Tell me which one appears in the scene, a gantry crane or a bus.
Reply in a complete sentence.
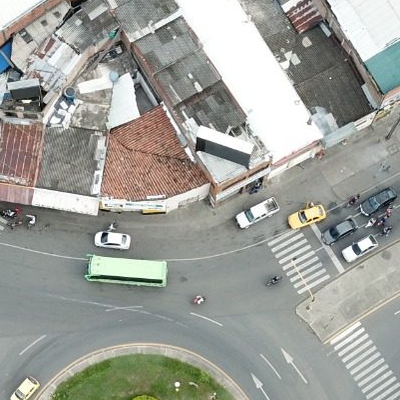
Visible in the photo is a bus.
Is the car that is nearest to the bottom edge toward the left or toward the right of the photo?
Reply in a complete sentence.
You can find the car that is nearest to the bottom edge on the left side of the picture.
